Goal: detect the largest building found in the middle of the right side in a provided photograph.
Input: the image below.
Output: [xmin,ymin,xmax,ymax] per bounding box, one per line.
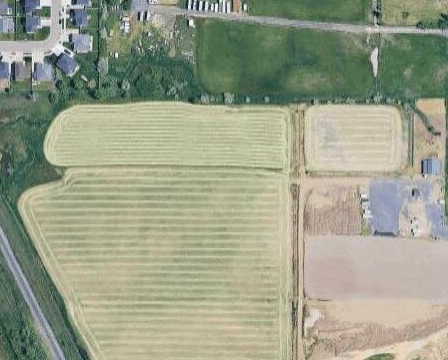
[422,158,441,175]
